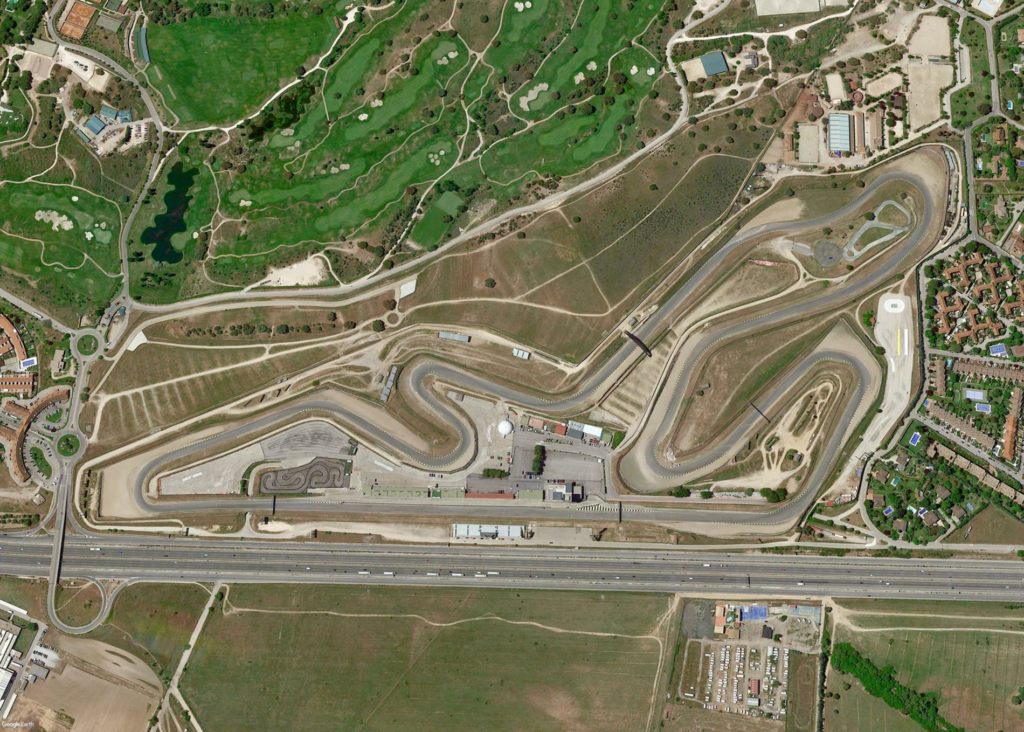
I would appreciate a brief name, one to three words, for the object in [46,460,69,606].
overpass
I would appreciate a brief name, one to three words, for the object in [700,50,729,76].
building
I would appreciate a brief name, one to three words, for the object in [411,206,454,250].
sports field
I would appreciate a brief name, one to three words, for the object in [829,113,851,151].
building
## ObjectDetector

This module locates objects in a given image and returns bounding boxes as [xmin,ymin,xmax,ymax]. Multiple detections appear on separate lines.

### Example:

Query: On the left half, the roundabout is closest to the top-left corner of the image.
[70,328,105,362]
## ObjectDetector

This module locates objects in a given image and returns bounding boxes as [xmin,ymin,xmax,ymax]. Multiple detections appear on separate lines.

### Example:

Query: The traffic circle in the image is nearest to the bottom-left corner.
[56,428,86,462]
